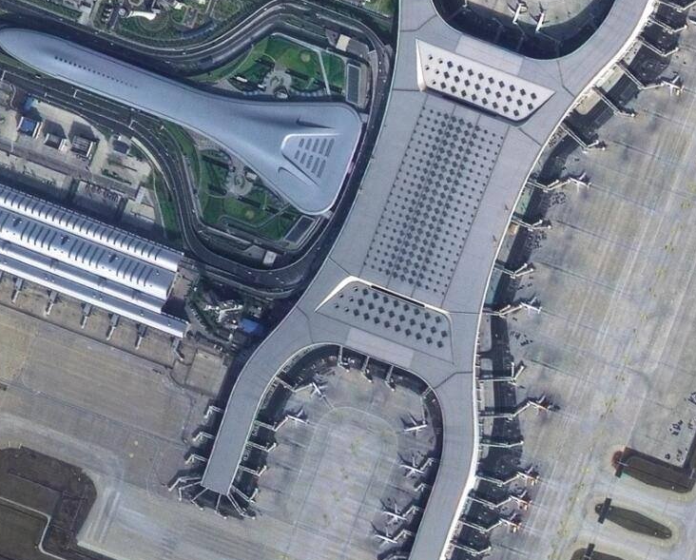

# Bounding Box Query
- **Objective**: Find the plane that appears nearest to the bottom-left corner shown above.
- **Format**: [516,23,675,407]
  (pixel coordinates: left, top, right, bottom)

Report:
[287,410,309,431]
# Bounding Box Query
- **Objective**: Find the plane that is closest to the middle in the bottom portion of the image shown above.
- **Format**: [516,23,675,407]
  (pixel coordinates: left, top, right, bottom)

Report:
[313,381,327,401]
